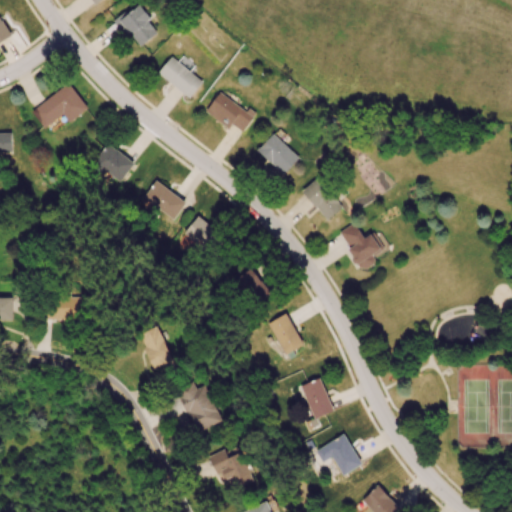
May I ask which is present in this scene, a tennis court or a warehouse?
tennis court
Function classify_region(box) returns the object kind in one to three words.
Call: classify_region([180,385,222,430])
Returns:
house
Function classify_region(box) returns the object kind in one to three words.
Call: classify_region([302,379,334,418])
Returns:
house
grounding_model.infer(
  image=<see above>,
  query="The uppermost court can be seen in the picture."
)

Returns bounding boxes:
[440,315,479,348]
